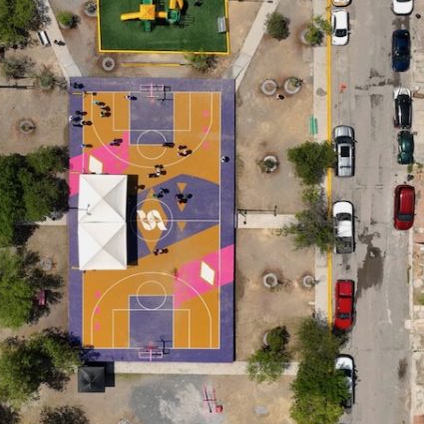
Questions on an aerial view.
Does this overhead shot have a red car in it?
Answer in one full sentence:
Yes, the picture does show a red car.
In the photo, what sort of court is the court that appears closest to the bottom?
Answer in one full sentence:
I'd say the court that appears closest to the bottom is a basketball court.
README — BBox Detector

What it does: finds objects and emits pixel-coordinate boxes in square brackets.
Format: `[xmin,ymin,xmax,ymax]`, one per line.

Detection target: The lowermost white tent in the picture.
[79,221,129,270]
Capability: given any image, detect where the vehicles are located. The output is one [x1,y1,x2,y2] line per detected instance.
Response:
[391,30,412,74]
[333,201,355,254]
[392,0,414,16]
[394,87,415,130]
[330,9,350,46]
[396,129,415,166]
[333,279,355,330]
[334,126,356,178]
[394,183,416,231]
[334,354,355,404]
